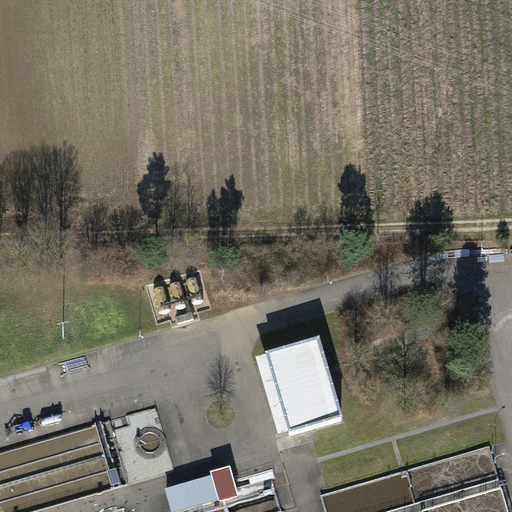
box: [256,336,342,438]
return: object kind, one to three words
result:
building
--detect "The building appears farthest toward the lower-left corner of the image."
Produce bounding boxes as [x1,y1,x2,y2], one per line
[166,466,238,512]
